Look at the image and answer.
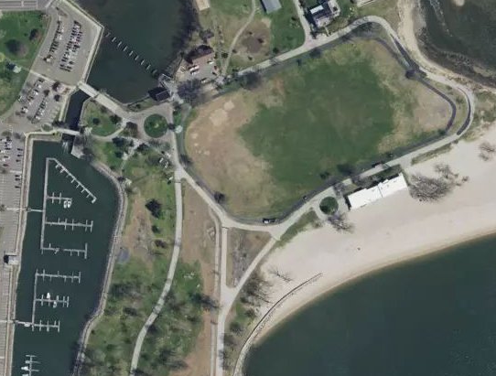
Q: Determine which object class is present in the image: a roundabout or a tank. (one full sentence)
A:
Looking from above, you can make out a roundabout.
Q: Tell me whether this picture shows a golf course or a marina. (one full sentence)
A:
The picture captures a marina.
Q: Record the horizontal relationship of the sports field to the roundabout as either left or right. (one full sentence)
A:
It is on the right side of the roundabout that the sports field is positioned.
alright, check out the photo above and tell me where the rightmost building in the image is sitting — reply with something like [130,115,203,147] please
[379,173,408,197]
